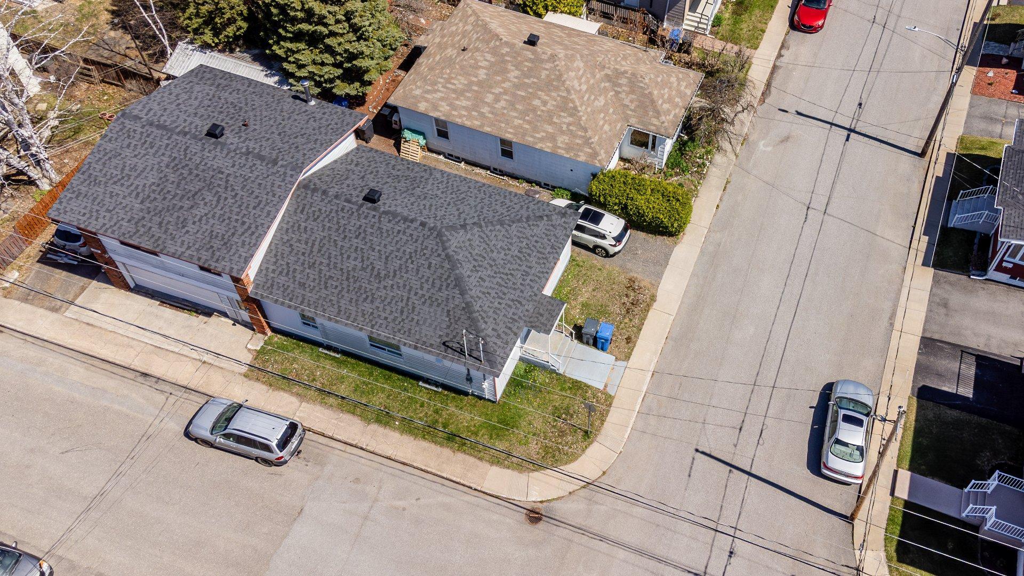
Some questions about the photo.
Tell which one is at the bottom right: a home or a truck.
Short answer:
home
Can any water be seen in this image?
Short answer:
No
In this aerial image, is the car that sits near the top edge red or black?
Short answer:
red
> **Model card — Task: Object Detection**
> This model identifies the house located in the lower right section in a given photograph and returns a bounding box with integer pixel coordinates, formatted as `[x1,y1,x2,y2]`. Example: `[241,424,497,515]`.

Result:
[890,453,1024,576]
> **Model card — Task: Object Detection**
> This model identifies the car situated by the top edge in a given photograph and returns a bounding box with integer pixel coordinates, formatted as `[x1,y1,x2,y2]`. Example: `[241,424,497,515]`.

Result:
[793,0,839,38]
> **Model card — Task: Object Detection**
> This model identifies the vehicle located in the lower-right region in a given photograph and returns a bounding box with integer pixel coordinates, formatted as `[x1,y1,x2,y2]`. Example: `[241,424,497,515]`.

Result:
[815,373,883,486]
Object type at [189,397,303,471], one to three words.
car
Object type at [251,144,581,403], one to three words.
house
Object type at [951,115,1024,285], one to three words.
house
